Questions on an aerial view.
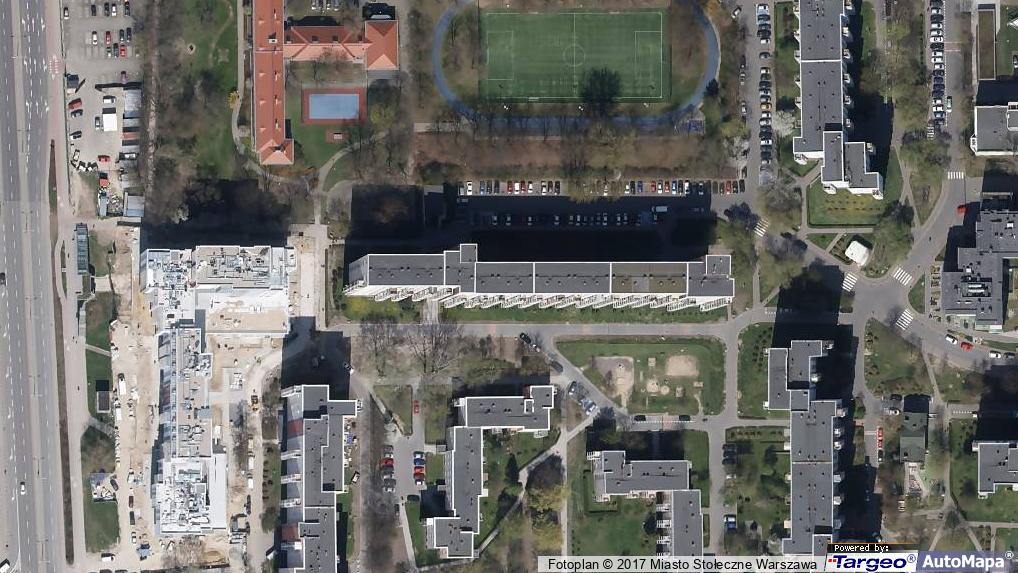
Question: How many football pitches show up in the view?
1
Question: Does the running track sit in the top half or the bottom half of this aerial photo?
top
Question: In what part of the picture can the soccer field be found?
top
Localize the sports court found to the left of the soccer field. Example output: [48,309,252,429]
[301,88,366,123]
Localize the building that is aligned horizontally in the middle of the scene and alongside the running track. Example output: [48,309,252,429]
[354,245,734,311]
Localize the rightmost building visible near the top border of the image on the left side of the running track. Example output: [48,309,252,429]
[252,0,398,165]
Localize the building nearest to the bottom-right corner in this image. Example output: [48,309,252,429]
[957,444,1018,504]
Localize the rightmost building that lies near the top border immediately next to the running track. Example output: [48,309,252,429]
[778,0,879,202]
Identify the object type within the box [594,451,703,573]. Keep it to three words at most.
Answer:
building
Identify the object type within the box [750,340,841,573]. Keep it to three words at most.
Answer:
building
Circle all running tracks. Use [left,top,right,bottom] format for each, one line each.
[432,0,718,126]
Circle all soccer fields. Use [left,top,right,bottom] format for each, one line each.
[479,8,672,102]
